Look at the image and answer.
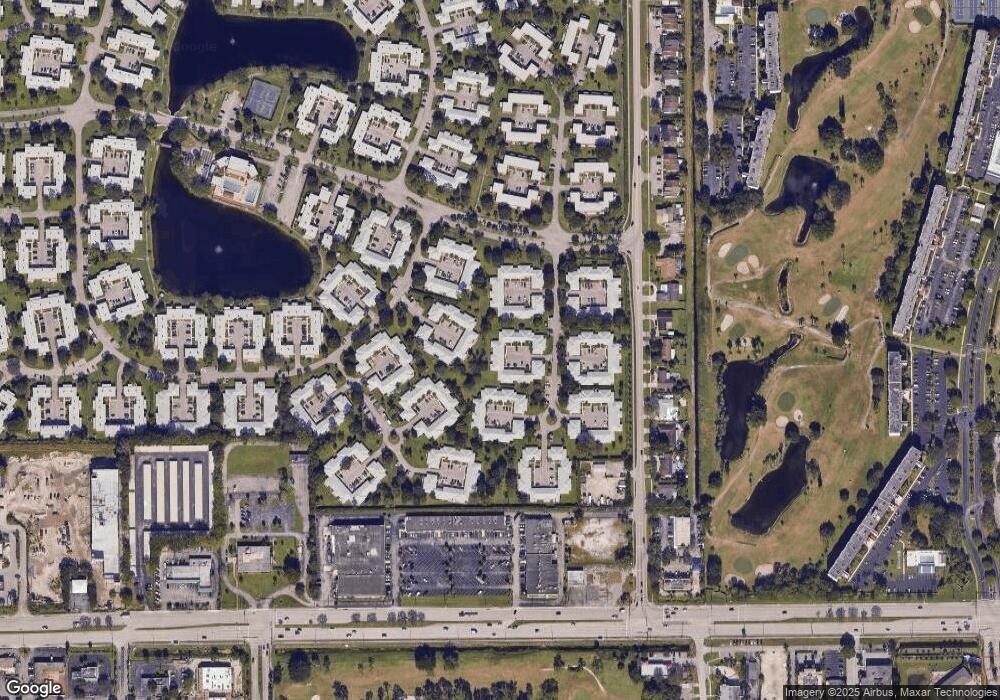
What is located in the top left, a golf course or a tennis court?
tennis court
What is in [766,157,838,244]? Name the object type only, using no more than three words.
pond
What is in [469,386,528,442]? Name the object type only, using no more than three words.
house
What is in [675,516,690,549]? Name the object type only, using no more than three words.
building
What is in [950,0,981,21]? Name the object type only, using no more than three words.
tennis court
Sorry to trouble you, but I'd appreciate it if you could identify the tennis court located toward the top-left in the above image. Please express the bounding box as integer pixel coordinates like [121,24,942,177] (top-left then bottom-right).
[246,79,284,119]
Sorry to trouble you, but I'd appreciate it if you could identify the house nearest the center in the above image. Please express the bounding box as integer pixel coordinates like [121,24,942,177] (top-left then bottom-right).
[488,328,546,384]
